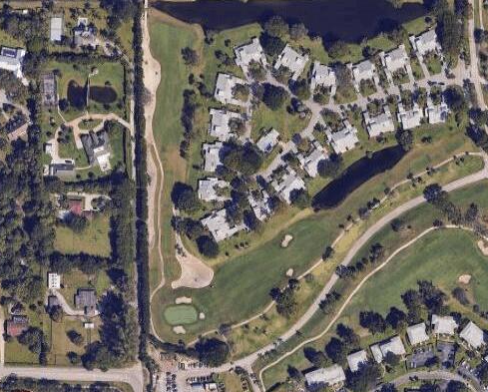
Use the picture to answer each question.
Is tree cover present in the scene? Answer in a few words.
Yes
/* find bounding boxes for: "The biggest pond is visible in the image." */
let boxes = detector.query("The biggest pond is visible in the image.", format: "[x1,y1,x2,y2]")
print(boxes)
[312,145,407,209]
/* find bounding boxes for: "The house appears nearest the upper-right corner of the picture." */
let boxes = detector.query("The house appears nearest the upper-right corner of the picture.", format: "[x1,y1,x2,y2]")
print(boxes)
[408,24,441,60]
